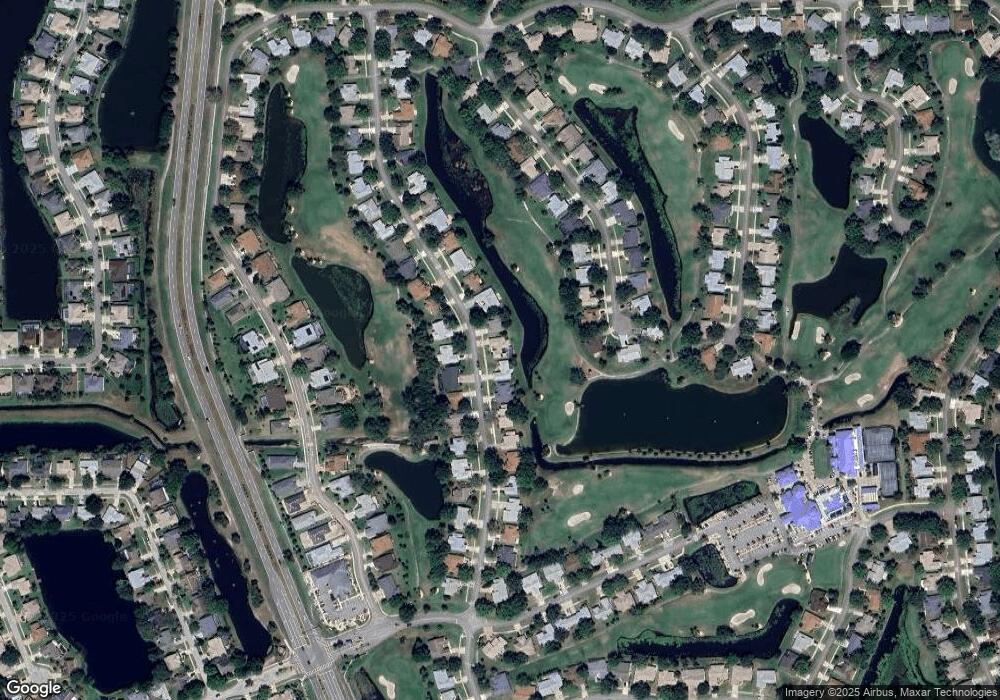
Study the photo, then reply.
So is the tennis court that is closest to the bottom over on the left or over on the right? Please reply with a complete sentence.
The tennis court that is closest to the bottom is on the right side of the image.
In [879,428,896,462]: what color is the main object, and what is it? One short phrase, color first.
gray tennis court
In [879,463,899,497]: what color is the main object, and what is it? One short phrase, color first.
gray tennis court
